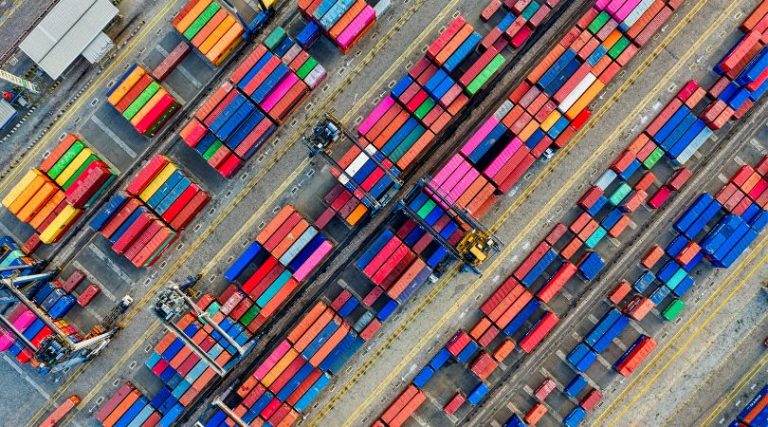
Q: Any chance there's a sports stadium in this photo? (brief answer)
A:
No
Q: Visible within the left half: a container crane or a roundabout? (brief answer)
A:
container crane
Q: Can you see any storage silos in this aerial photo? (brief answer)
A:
No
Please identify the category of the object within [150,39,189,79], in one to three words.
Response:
shipping container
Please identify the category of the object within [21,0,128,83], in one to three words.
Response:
building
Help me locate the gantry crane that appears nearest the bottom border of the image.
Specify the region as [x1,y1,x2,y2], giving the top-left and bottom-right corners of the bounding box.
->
[193,374,251,427]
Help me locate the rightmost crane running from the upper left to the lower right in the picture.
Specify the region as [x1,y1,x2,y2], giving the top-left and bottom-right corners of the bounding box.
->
[398,176,502,275]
